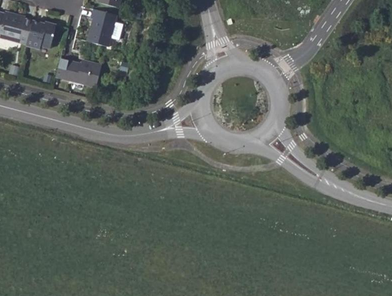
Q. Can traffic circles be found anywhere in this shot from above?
Yes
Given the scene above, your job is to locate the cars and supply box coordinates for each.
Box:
[149,123,160,128]
[81,10,92,15]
